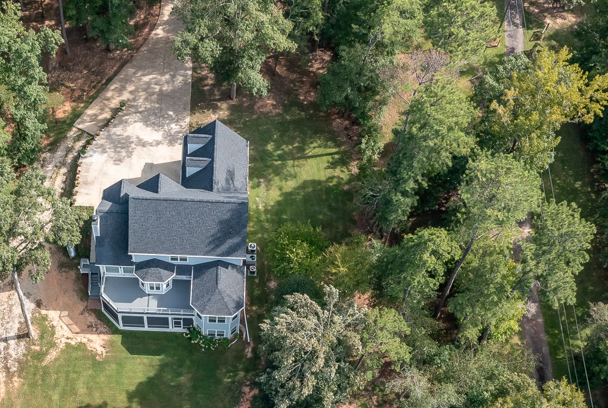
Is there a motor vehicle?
No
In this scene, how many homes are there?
one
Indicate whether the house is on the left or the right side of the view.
left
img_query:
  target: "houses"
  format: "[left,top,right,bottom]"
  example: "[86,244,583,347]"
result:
[84,117,253,363]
